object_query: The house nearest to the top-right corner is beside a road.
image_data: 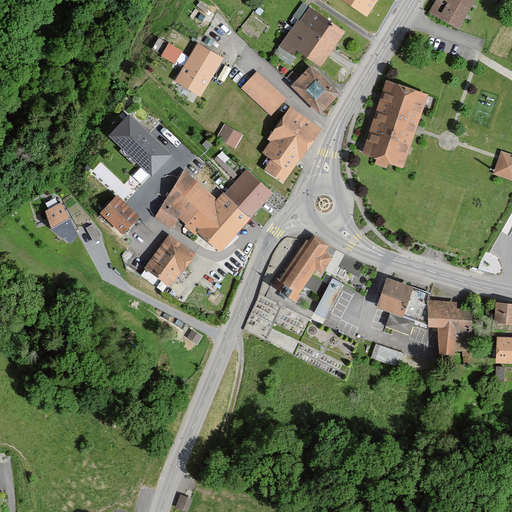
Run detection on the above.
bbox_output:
[429,0,476,30]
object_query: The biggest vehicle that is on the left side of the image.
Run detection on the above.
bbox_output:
[160,126,180,146]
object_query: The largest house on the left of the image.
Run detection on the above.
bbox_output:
[155,170,250,252]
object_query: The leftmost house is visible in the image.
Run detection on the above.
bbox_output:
[46,204,78,244]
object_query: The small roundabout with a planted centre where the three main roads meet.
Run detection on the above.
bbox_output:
[296,175,354,233]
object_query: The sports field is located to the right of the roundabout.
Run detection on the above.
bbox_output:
[414,179,466,246]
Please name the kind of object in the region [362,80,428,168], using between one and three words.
building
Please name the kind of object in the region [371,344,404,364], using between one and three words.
building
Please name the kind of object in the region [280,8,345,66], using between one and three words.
house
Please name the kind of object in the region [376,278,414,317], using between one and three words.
house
